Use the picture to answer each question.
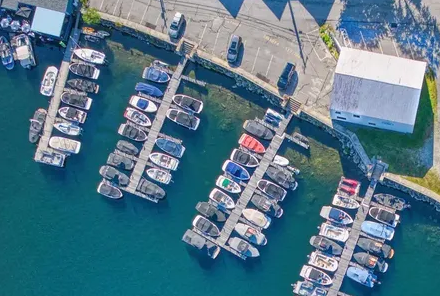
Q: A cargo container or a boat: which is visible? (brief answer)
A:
boat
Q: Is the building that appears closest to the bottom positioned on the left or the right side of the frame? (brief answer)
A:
right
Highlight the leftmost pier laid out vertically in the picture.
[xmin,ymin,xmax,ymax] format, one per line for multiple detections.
[36,9,97,159]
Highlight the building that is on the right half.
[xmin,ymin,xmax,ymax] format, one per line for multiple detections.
[331,47,427,131]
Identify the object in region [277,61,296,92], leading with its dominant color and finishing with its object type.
blue vehicle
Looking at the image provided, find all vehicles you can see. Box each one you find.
[227,34,242,65]
[169,11,185,41]
[277,61,296,92]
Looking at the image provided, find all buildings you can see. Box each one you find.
[0,0,83,44]
[331,47,427,131]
